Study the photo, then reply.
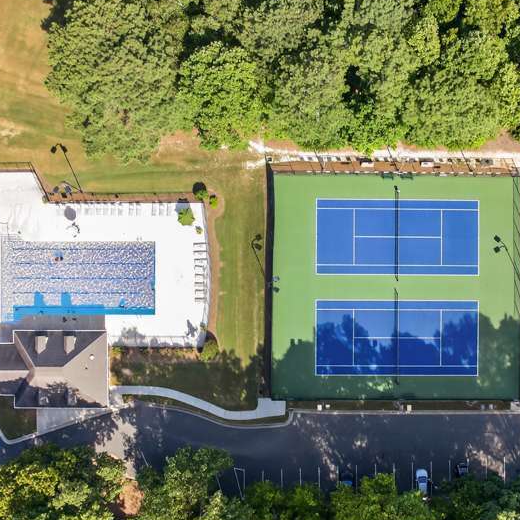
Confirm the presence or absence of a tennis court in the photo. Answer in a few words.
Yes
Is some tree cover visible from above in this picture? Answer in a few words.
Yes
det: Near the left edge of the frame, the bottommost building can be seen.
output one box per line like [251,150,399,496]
[0,330,110,408]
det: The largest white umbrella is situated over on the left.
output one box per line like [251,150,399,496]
[64,221,78,235]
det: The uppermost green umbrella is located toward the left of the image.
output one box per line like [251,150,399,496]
[175,209,192,226]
